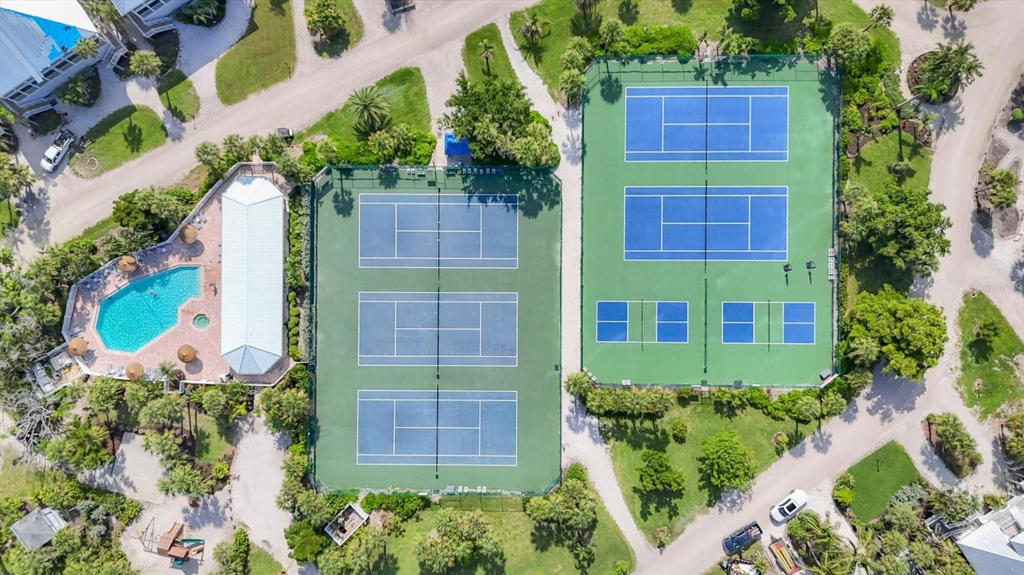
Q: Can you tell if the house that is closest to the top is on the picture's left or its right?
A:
left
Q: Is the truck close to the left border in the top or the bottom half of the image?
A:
top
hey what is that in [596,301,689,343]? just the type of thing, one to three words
sports court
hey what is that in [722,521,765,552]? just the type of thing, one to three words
truck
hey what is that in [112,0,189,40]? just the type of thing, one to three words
house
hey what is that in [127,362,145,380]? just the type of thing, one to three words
umbrella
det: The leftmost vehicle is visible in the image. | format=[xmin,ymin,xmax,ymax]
[43,130,80,172]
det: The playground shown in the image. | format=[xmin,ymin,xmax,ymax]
[138,518,205,569]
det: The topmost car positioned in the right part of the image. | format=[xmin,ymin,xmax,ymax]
[766,488,808,519]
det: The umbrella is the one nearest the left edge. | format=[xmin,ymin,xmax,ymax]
[70,338,88,356]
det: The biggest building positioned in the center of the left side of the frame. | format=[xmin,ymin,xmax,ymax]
[220,177,289,374]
